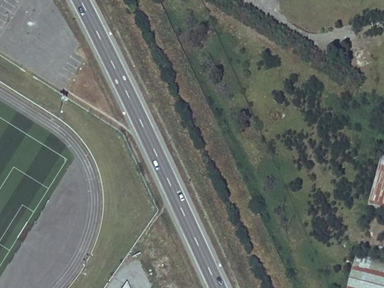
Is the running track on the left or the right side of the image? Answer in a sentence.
The running track appears in the left half of the scene.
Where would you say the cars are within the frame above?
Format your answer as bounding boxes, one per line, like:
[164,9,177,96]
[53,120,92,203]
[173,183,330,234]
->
[178,190,185,201]
[152,160,159,170]
[78,5,85,16]
[216,276,224,286]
